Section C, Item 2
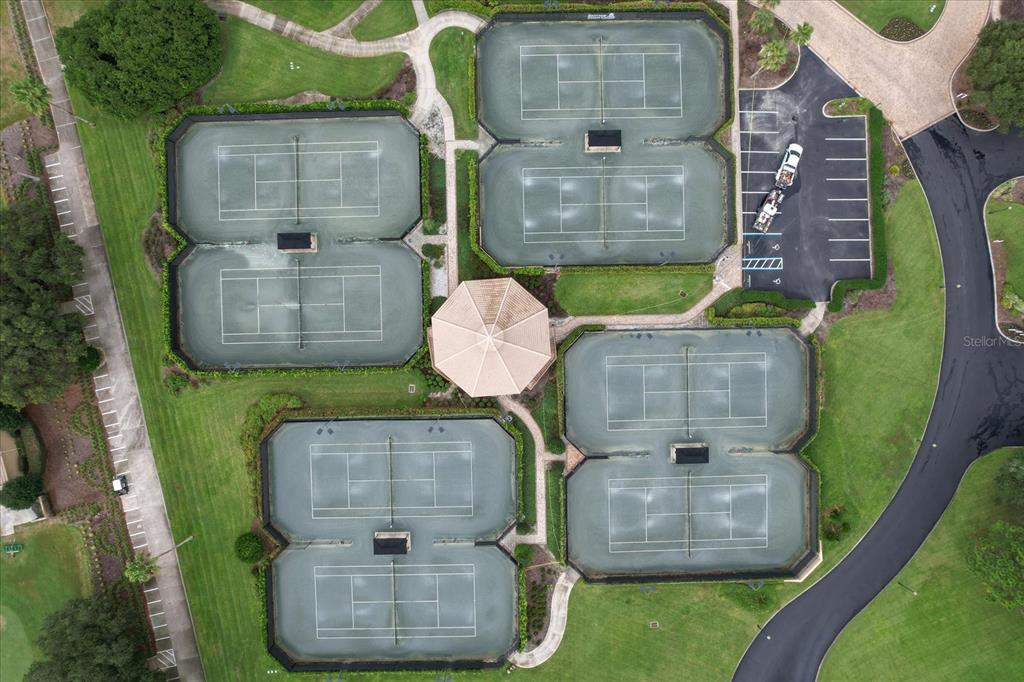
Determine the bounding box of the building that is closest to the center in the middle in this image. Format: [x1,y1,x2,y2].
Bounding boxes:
[427,277,558,397]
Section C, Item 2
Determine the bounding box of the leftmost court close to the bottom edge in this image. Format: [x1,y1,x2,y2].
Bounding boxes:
[274,541,516,661]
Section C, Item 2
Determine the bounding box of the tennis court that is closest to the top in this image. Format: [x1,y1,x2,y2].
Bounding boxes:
[478,20,725,142]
